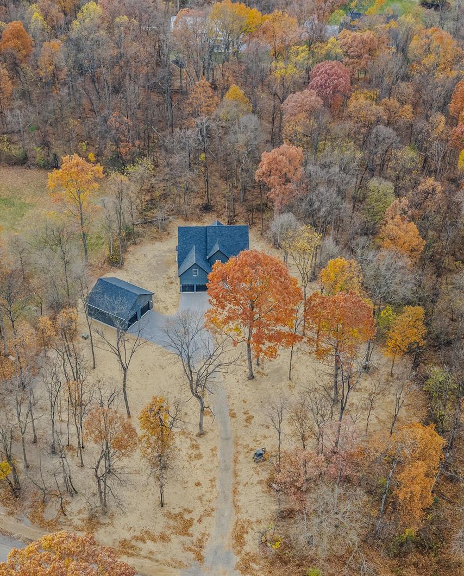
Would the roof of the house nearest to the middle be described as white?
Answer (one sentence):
No, the roof of the house nearest to the middle is blue.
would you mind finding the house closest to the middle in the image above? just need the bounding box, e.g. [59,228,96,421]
[174,218,251,295]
